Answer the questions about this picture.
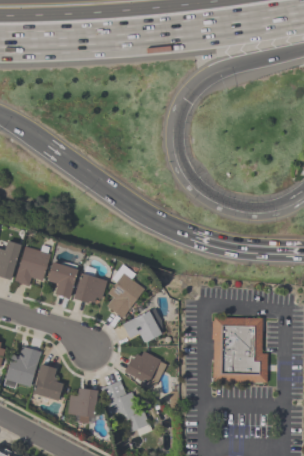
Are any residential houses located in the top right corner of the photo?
No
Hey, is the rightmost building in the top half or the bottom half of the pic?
bottom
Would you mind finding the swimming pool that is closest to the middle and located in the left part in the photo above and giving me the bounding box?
[90,259,108,277]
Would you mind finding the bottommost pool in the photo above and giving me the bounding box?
[94,415,108,438]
